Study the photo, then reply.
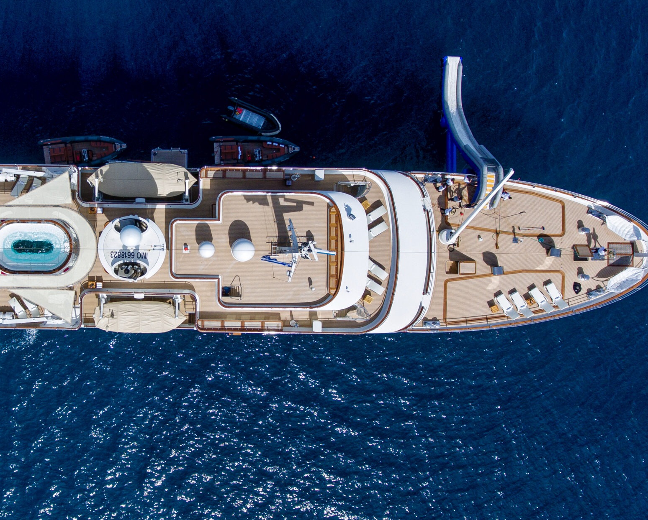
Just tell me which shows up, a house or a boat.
boat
